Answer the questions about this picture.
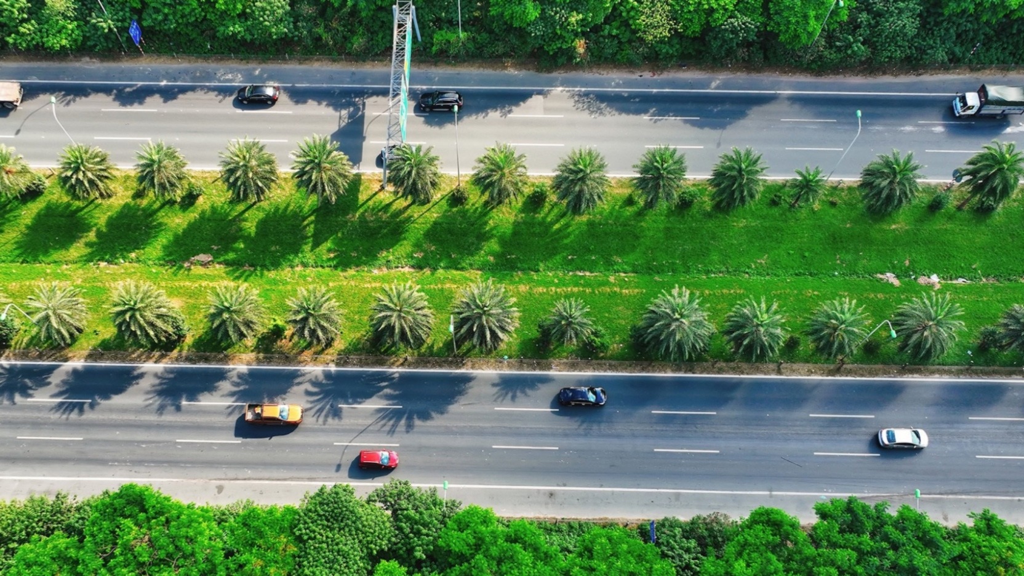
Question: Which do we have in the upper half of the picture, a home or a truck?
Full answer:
The feature located in the upper half of the picture is a truck.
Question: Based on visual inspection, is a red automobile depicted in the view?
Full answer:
Yes, the photo shows a red automobile.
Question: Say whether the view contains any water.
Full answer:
No, water can't be seen anywhere here.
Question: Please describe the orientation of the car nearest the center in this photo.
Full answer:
The car nearest the center is laid out from side to side.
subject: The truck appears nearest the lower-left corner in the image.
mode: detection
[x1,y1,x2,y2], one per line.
[243,403,304,427]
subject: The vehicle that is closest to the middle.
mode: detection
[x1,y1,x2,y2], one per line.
[559,386,607,408]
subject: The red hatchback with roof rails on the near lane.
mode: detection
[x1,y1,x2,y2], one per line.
[359,448,400,471]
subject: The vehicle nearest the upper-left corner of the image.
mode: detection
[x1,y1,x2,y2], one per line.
[0,82,27,113]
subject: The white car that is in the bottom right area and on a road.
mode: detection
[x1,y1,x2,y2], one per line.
[876,427,929,450]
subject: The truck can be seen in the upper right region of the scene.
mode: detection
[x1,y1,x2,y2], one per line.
[950,88,1024,120]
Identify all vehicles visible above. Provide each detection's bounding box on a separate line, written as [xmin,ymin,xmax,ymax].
[876,427,929,450]
[950,88,1024,120]
[0,82,27,113]
[243,403,304,427]
[237,85,282,106]
[559,386,607,408]
[359,448,400,471]
[420,92,464,114]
